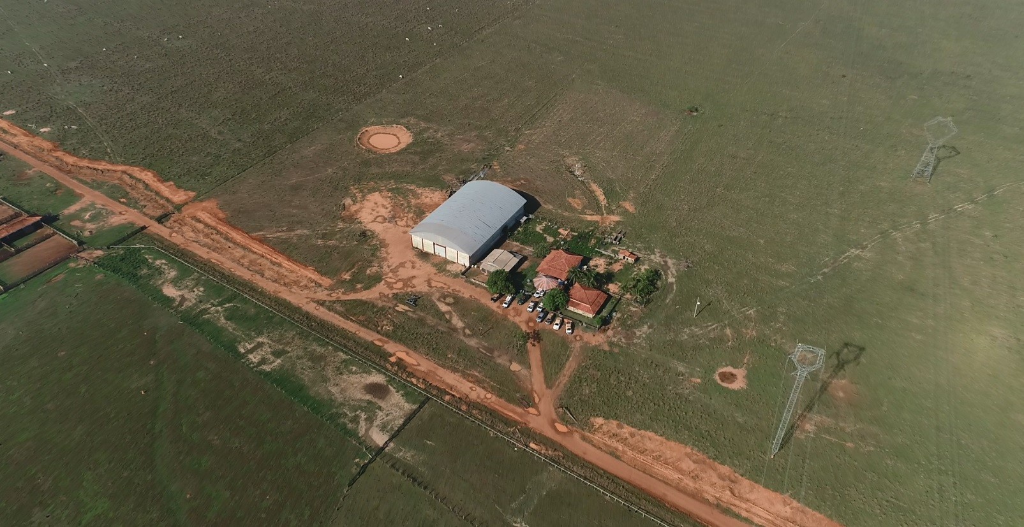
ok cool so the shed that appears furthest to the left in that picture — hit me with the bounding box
[0,212,43,246]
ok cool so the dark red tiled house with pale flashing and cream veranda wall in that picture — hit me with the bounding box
[563,283,608,321]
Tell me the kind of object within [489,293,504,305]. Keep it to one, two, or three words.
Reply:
vehicle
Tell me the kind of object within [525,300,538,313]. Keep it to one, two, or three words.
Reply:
vehicle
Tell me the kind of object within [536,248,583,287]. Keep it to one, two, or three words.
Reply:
house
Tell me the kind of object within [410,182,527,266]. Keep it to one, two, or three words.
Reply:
building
